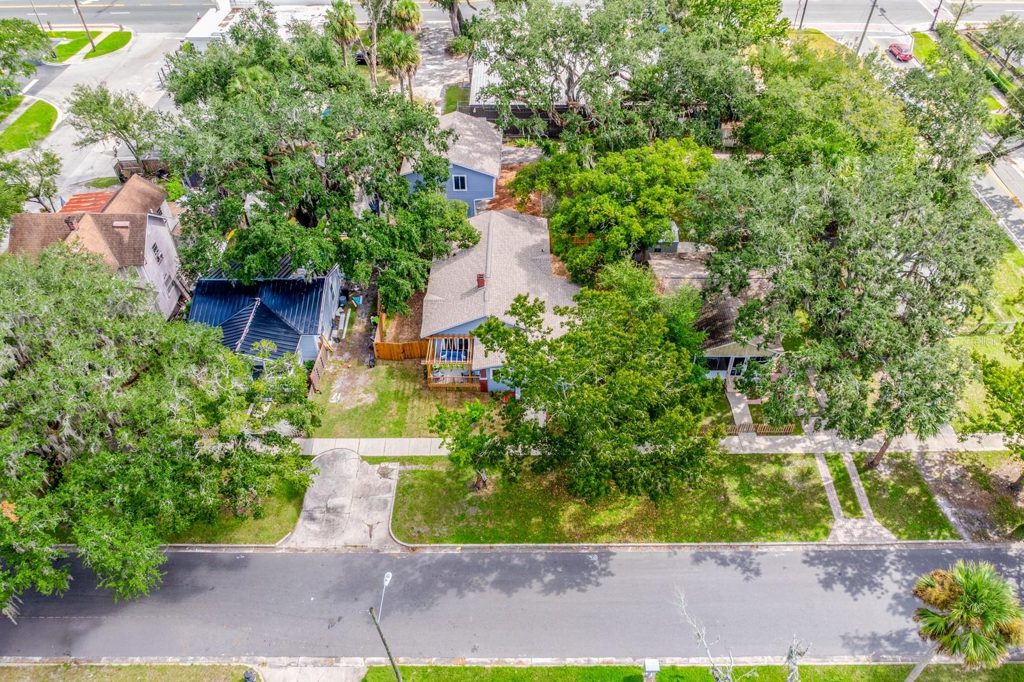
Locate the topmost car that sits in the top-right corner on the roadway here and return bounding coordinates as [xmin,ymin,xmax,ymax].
[889,47,918,63]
